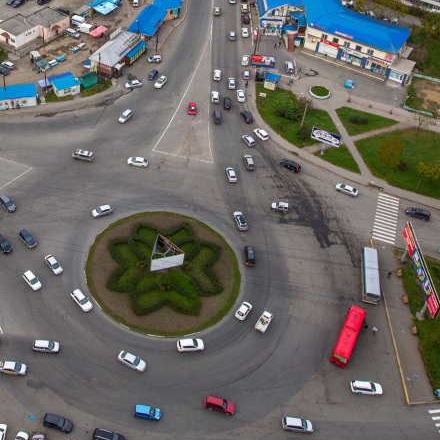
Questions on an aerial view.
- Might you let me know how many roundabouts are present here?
1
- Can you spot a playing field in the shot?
No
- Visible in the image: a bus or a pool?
bus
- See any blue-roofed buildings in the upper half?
Yes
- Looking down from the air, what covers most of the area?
paved ground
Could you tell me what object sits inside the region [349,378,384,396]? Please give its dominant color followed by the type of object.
white car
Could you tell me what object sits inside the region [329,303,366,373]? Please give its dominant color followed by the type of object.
red bus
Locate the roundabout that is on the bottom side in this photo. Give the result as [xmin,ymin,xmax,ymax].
[85,215,242,344]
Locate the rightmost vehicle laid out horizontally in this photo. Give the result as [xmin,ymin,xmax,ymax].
[405,207,431,222]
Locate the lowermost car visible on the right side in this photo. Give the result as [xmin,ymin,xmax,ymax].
[282,415,313,435]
